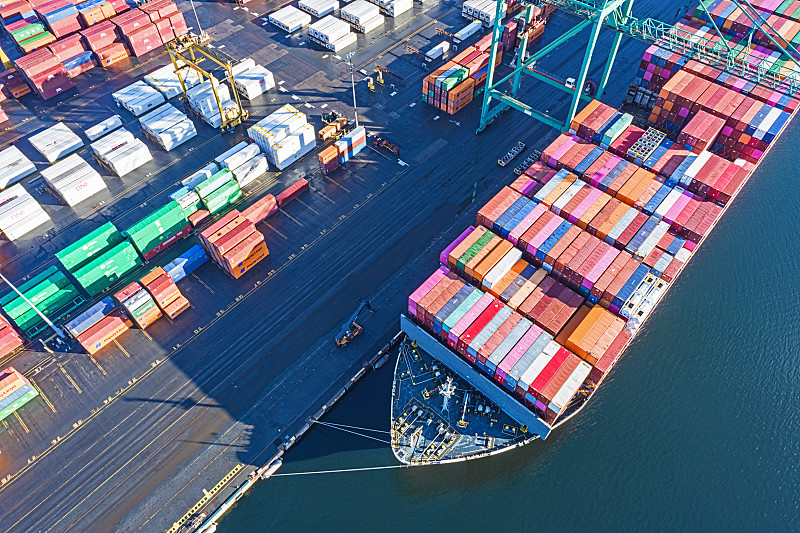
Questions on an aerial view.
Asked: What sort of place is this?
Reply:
port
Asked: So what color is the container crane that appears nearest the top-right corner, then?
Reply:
blue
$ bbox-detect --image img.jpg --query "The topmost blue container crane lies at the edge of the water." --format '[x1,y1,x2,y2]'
[474,0,800,134]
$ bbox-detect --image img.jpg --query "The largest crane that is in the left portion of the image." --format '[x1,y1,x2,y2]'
[167,37,250,131]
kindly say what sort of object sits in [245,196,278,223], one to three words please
shipping container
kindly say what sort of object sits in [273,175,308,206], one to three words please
shipping container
